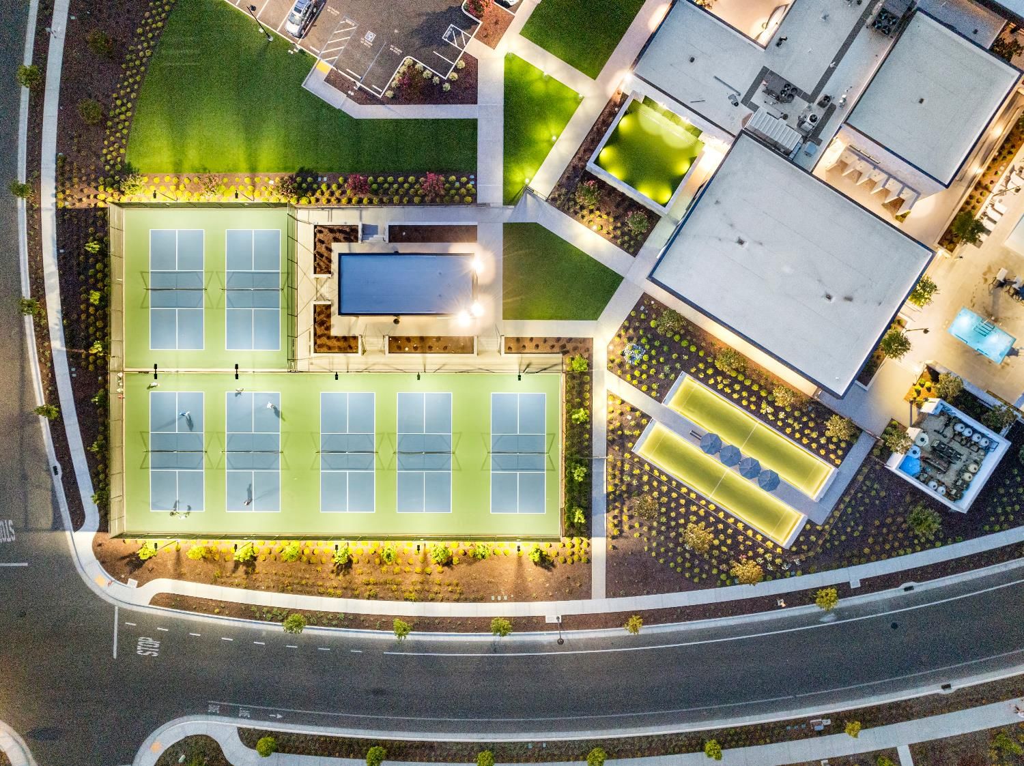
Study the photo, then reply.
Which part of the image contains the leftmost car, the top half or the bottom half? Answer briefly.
top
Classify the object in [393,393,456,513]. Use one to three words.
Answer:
sports court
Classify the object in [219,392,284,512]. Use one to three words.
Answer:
sports court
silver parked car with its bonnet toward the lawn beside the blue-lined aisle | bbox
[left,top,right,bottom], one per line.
[289,0,320,33]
